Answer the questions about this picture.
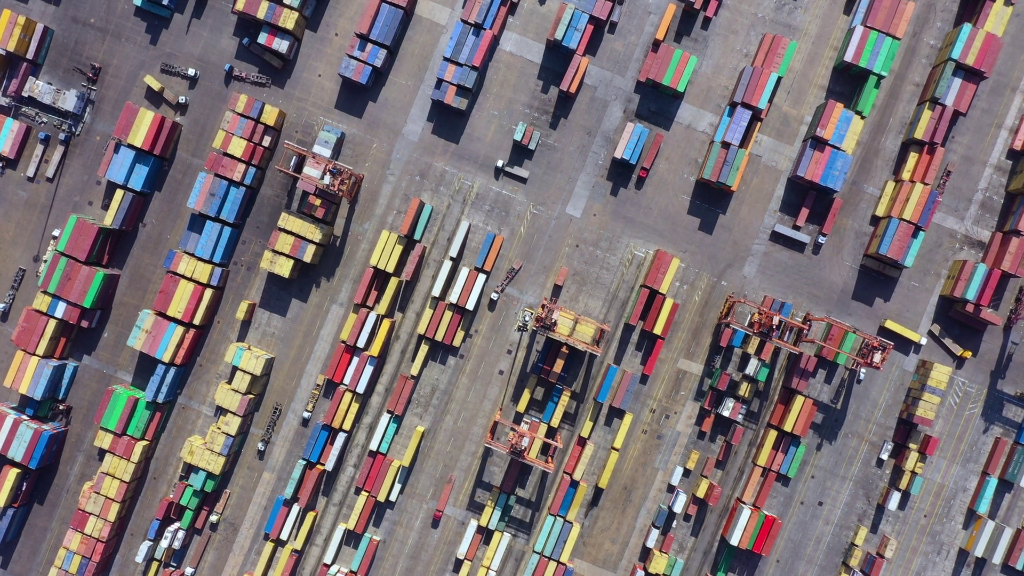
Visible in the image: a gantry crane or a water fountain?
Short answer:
gantry crane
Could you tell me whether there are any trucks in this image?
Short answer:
Yes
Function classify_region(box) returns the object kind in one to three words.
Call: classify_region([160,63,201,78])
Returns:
vehicle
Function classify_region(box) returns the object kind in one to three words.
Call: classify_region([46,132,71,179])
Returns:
truck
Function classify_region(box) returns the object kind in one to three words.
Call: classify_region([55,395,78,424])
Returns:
work vehicle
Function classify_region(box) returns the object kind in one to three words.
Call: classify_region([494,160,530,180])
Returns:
vehicle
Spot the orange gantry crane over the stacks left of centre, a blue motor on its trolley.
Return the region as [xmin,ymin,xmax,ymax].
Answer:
[275,141,360,203]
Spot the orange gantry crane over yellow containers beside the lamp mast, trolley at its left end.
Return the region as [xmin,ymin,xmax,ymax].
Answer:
[531,296,611,359]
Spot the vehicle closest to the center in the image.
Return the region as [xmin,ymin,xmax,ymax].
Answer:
[489,259,523,304]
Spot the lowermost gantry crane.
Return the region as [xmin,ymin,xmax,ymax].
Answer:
[485,404,563,474]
